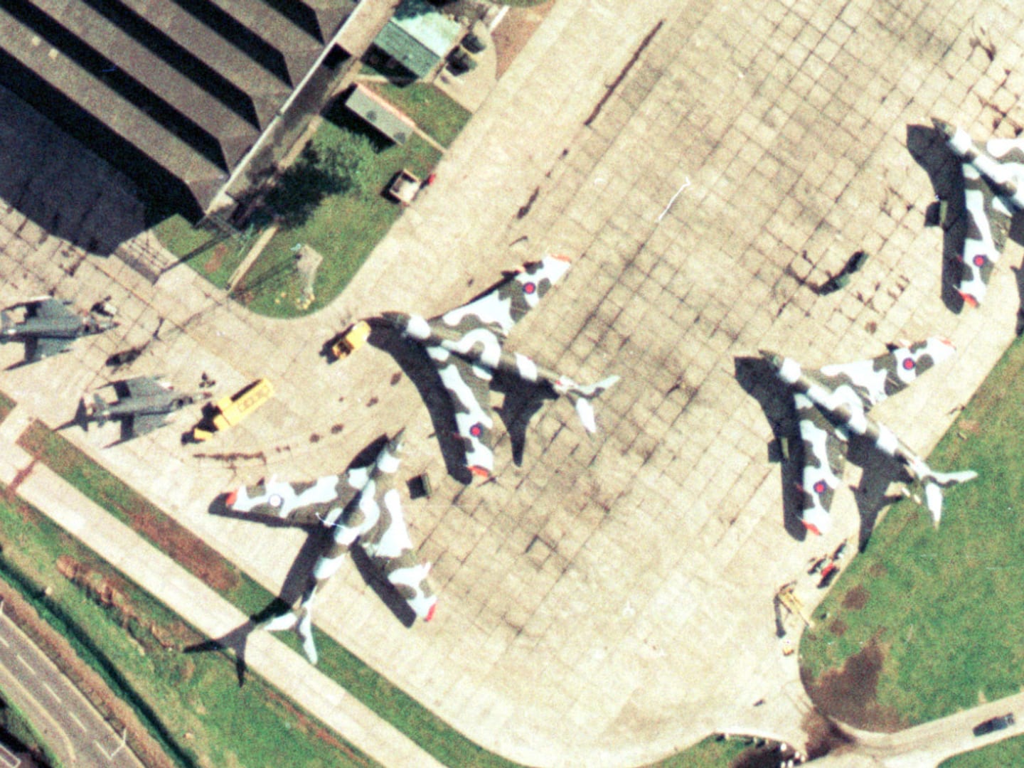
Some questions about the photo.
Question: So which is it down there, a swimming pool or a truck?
truck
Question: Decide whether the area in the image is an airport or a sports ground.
airport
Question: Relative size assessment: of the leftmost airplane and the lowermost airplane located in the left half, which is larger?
the lowermost airplane located in the left half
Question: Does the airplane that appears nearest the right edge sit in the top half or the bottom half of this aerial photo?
top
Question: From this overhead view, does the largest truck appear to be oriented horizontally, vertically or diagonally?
diagonally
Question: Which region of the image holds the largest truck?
left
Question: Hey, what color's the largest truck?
yellow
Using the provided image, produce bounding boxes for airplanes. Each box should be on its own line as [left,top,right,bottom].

[97,380,213,442]
[226,426,447,663]
[381,250,624,476]
[929,116,1024,308]
[4,301,121,361]
[756,330,980,534]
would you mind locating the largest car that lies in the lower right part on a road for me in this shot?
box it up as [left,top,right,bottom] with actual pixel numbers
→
[989,710,1017,729]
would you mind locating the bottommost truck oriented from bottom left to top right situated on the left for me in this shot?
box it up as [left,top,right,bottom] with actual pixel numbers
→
[214,377,274,431]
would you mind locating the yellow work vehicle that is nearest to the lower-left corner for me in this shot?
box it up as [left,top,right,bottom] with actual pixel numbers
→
[191,424,213,439]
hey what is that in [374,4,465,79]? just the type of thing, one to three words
shed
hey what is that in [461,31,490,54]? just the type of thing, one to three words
car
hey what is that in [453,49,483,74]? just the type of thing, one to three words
car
